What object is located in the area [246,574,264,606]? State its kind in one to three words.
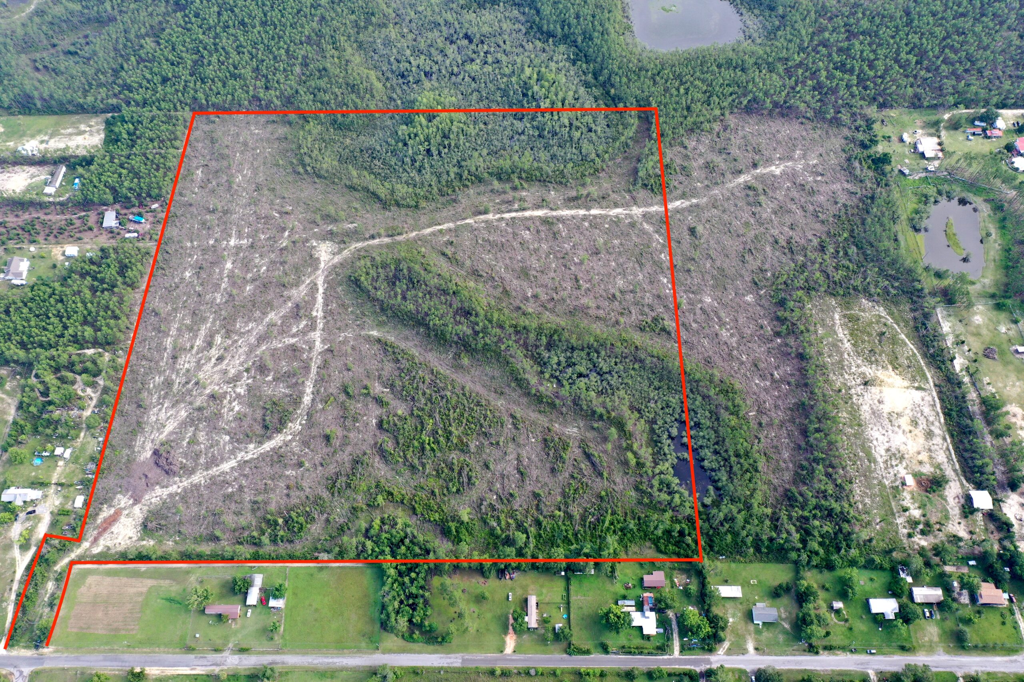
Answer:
barn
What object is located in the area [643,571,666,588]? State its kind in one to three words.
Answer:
building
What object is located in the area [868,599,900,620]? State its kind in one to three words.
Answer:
house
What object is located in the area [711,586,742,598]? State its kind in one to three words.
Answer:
shed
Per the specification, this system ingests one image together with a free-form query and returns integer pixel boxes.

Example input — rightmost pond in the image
[924,196,985,278]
